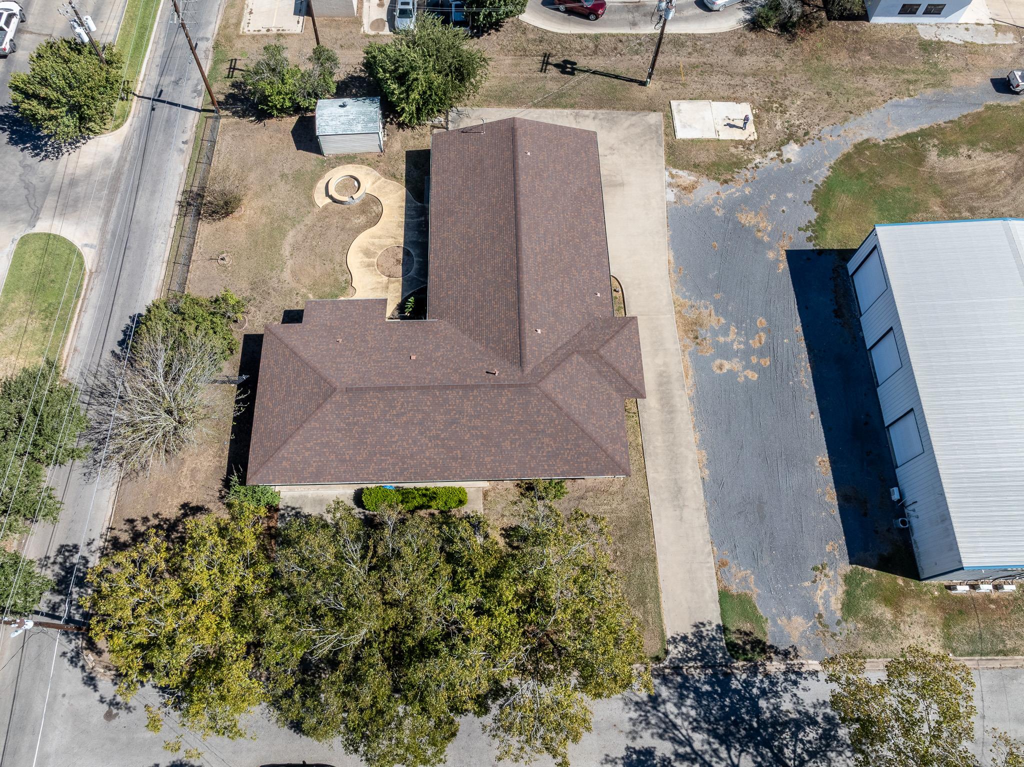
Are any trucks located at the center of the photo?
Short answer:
No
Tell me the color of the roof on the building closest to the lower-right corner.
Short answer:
white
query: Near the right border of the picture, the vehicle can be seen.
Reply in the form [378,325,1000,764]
[1003,71,1024,97]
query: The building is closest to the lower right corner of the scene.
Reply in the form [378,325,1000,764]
[848,215,1024,600]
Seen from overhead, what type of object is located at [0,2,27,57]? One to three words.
truck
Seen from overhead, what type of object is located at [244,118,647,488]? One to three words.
house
